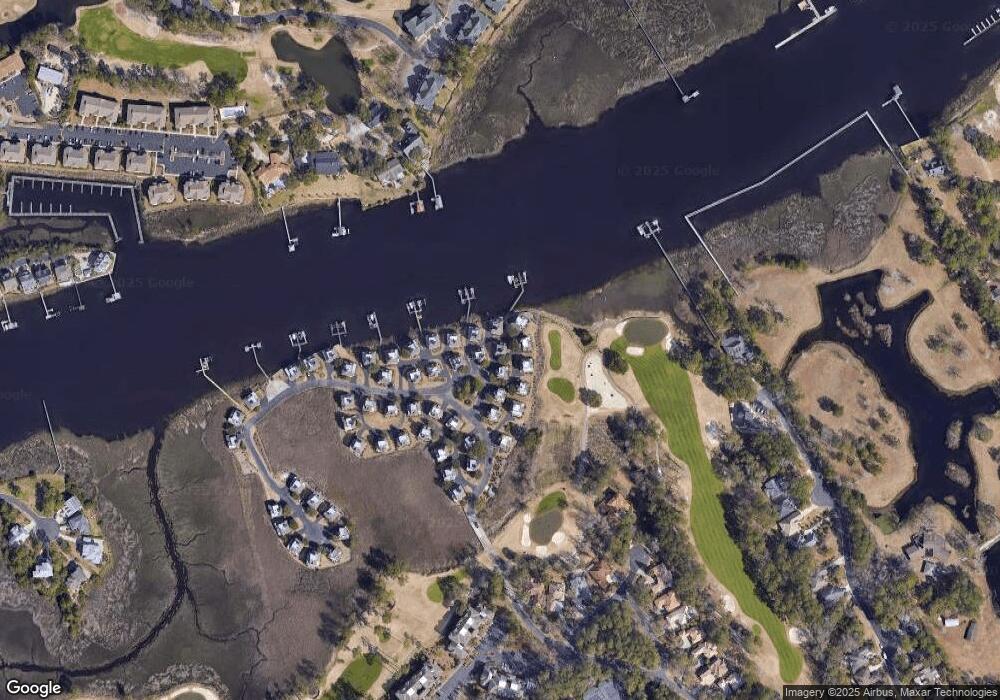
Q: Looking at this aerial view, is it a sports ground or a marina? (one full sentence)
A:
The picture captures a marina.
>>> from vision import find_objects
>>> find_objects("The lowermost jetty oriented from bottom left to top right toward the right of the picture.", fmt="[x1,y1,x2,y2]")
[685,111,908,290]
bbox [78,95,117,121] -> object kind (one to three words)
building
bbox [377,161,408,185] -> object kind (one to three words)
house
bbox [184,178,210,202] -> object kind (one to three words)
building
